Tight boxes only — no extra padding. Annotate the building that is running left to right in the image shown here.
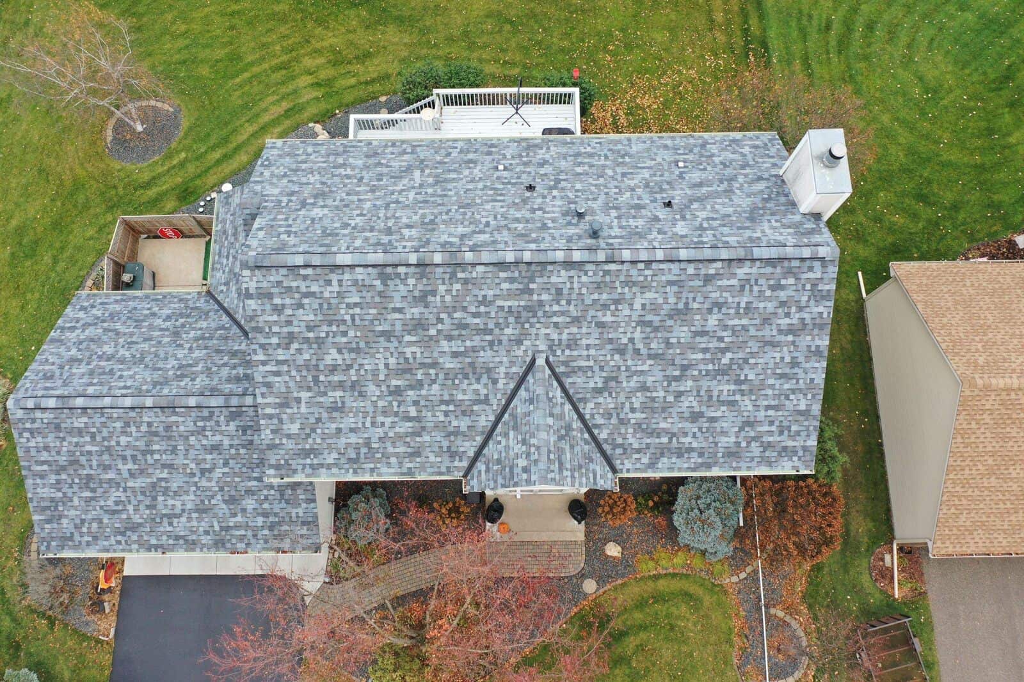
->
[8,129,853,557]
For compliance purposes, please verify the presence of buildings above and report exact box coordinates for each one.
[8,129,853,557]
[858,260,1024,596]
